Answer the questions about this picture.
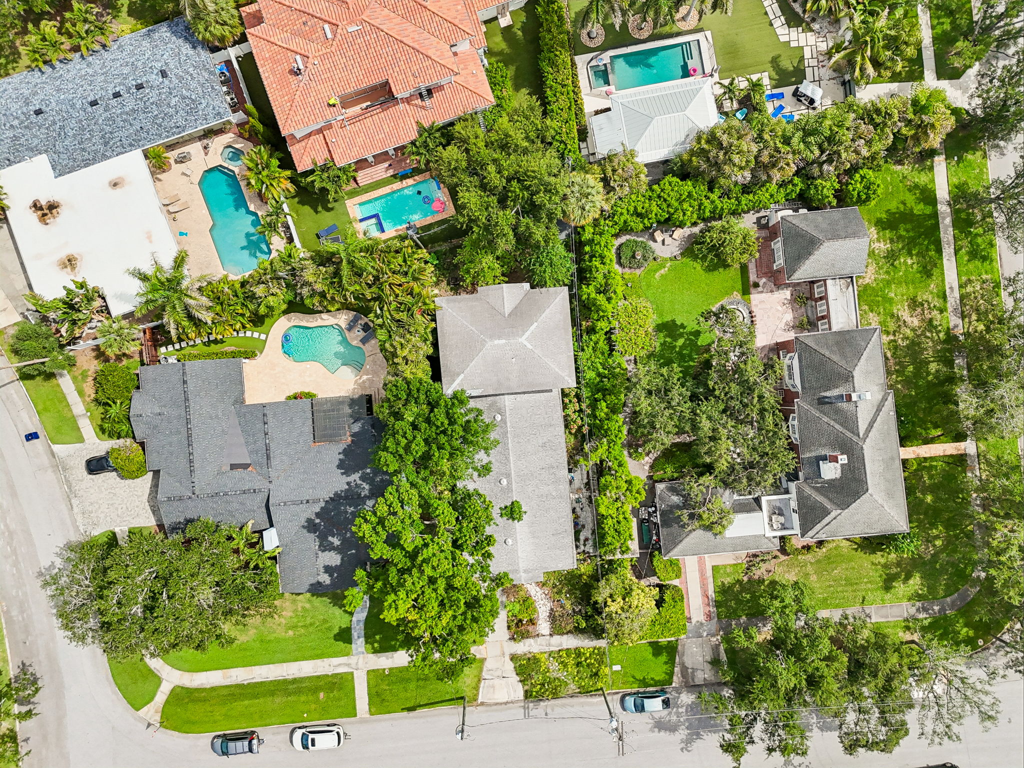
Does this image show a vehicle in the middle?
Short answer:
No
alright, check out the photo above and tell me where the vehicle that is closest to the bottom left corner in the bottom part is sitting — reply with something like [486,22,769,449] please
[209,729,263,760]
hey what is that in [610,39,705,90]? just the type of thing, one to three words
swimming pool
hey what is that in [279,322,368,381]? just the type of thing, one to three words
swimming pool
